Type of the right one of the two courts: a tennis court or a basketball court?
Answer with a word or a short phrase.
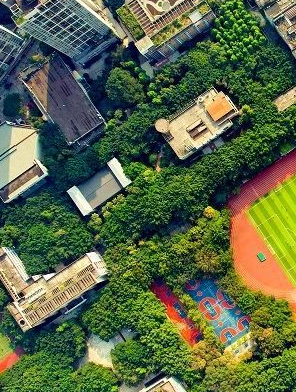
basketball court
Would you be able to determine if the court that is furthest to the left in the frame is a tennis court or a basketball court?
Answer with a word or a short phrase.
basketball court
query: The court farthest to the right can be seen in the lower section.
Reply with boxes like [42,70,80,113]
[185,274,253,347]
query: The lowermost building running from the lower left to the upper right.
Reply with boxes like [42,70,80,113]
[7,255,110,332]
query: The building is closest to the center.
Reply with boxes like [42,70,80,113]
[66,160,130,216]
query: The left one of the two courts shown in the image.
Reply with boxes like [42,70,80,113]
[149,277,204,347]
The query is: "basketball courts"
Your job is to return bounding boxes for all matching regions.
[149,277,204,347]
[185,274,253,347]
